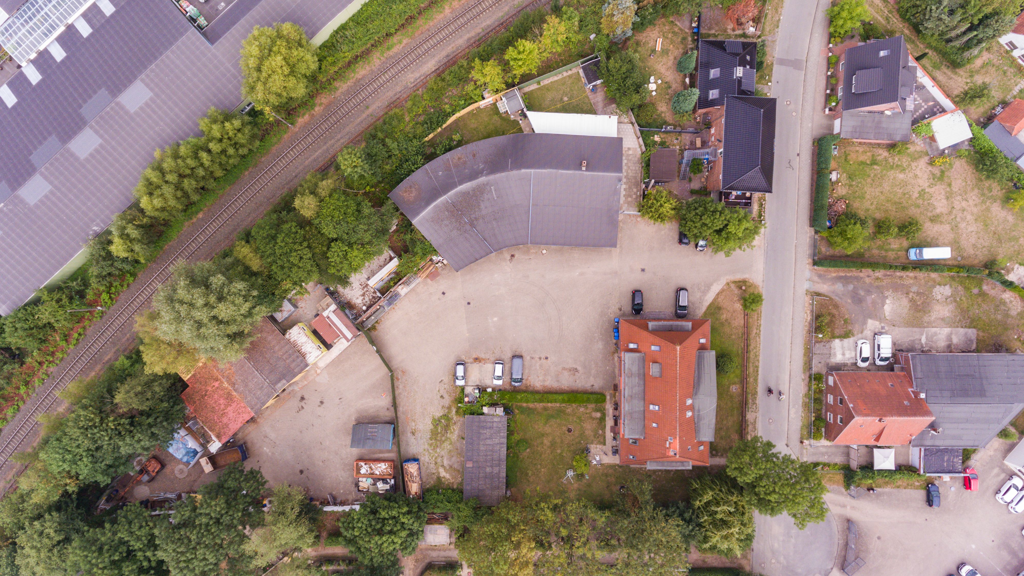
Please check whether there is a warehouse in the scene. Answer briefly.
Yes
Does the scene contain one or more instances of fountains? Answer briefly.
No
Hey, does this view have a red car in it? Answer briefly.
Yes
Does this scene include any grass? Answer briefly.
Yes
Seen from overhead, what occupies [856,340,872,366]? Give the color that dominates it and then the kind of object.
white car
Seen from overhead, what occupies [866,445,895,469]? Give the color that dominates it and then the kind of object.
white gazebo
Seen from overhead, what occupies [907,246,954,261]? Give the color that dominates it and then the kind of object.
white vehicle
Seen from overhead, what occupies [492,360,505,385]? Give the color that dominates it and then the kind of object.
white vehicle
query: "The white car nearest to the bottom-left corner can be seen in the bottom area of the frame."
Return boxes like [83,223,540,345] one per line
[454,361,466,385]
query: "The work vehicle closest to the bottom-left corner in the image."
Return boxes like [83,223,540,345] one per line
[116,457,162,501]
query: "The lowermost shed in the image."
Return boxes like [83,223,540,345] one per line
[422,521,450,544]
